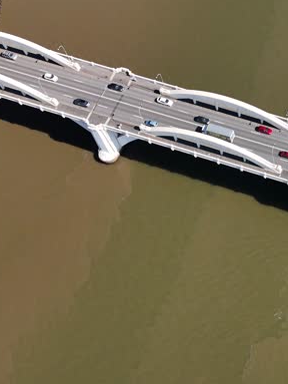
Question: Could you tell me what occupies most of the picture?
water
